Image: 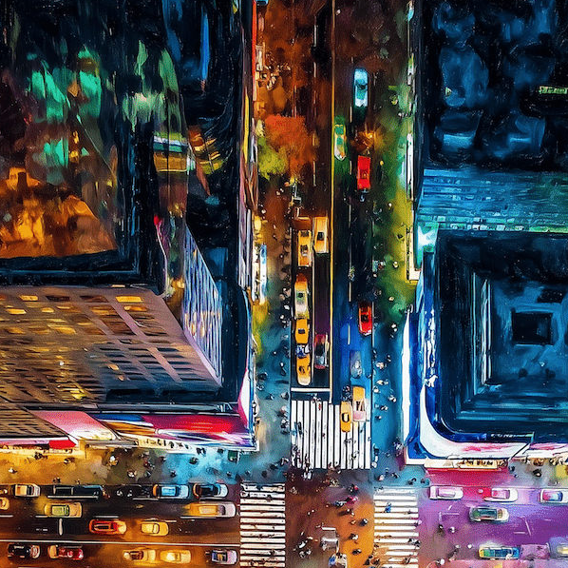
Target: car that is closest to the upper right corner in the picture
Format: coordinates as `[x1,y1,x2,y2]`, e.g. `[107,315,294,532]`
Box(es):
[352,71,371,111]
